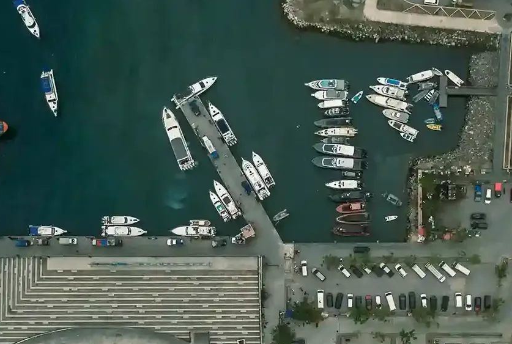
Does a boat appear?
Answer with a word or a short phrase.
Yes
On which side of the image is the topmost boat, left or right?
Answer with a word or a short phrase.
left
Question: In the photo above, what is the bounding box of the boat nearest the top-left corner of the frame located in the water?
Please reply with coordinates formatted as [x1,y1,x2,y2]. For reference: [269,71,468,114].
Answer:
[15,0,41,39]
